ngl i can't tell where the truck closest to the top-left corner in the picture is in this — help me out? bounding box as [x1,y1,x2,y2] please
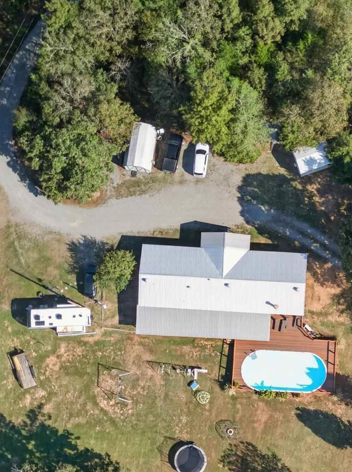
[161,132,183,176]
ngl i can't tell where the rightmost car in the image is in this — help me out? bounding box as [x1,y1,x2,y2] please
[193,143,210,179]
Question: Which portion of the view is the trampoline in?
bottom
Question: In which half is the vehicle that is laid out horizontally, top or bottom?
bottom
